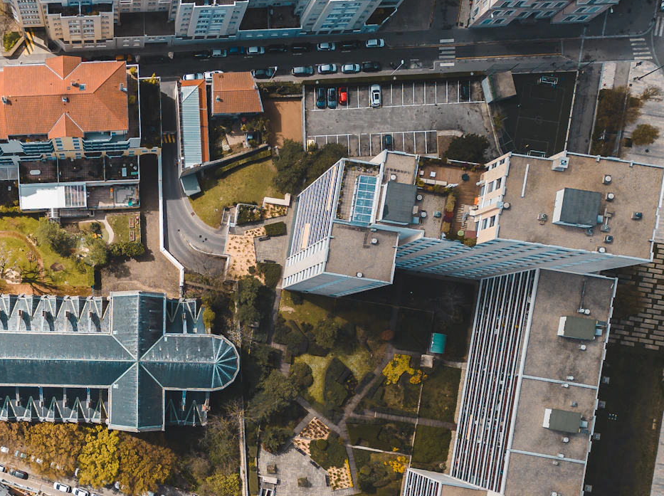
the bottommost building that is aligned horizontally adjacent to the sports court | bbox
[278,150,664,296]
